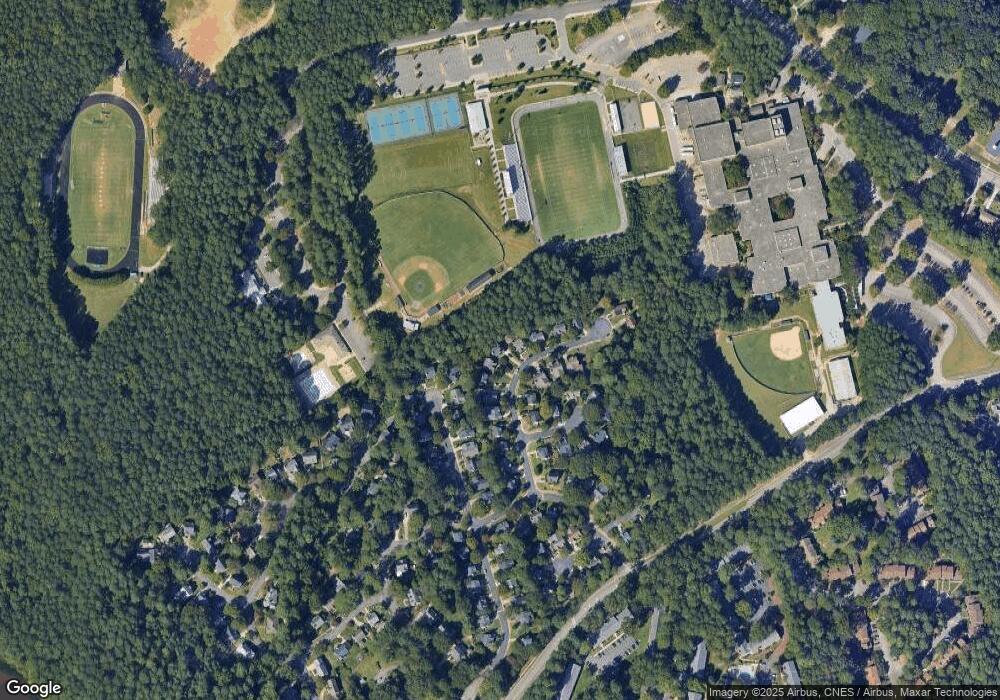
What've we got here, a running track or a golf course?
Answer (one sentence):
The one in the frame is a running track.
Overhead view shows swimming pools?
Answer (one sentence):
Yes, the frame does contain a swimming pool.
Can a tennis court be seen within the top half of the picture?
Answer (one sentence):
Yes, there is a tennis court within the top half of the picture.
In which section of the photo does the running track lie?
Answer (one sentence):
You can find the running track in the top left area of the picture.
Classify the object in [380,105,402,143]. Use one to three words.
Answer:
tennis court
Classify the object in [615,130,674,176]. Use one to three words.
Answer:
sports field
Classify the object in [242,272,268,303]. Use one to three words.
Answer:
building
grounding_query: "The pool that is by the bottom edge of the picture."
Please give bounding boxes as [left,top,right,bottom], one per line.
[729,663,758,685]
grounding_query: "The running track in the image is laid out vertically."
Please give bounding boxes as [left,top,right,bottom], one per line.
[60,93,145,278]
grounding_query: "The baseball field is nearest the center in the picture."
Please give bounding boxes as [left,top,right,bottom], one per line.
[374,190,504,322]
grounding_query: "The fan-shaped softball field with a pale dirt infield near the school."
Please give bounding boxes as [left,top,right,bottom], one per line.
[731,322,815,394]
